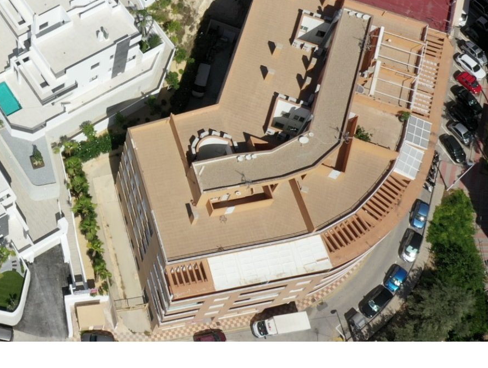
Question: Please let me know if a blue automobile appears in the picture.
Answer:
Yes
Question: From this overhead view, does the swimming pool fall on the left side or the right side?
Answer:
left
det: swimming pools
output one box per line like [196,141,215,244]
[0,78,25,119]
